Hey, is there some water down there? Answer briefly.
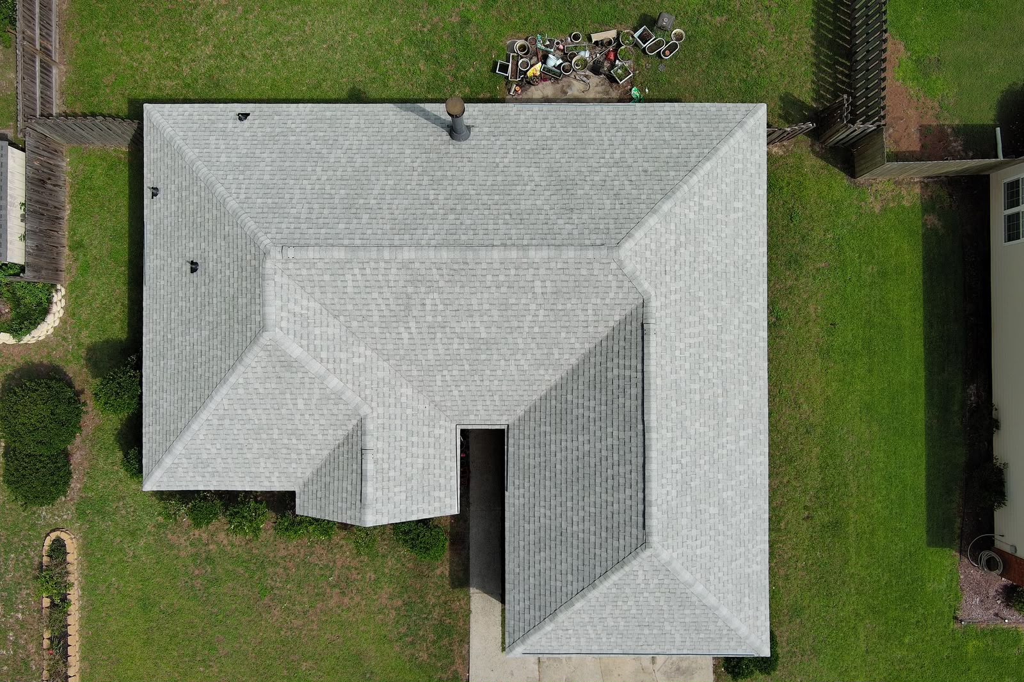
No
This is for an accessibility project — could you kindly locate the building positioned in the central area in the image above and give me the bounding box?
[142,98,771,659]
